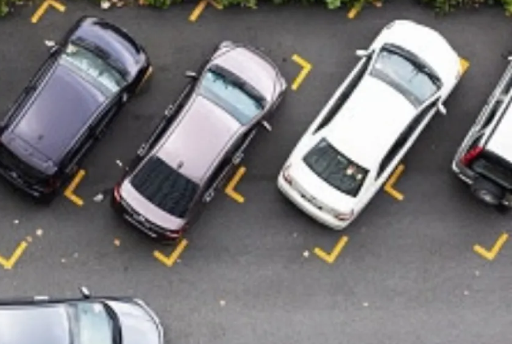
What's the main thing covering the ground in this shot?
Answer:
paved ground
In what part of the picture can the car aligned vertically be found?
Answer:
right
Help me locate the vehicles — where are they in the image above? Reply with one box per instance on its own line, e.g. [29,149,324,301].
[451,66,512,208]
[0,11,147,207]
[113,38,287,248]
[0,286,167,344]
[278,14,459,234]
